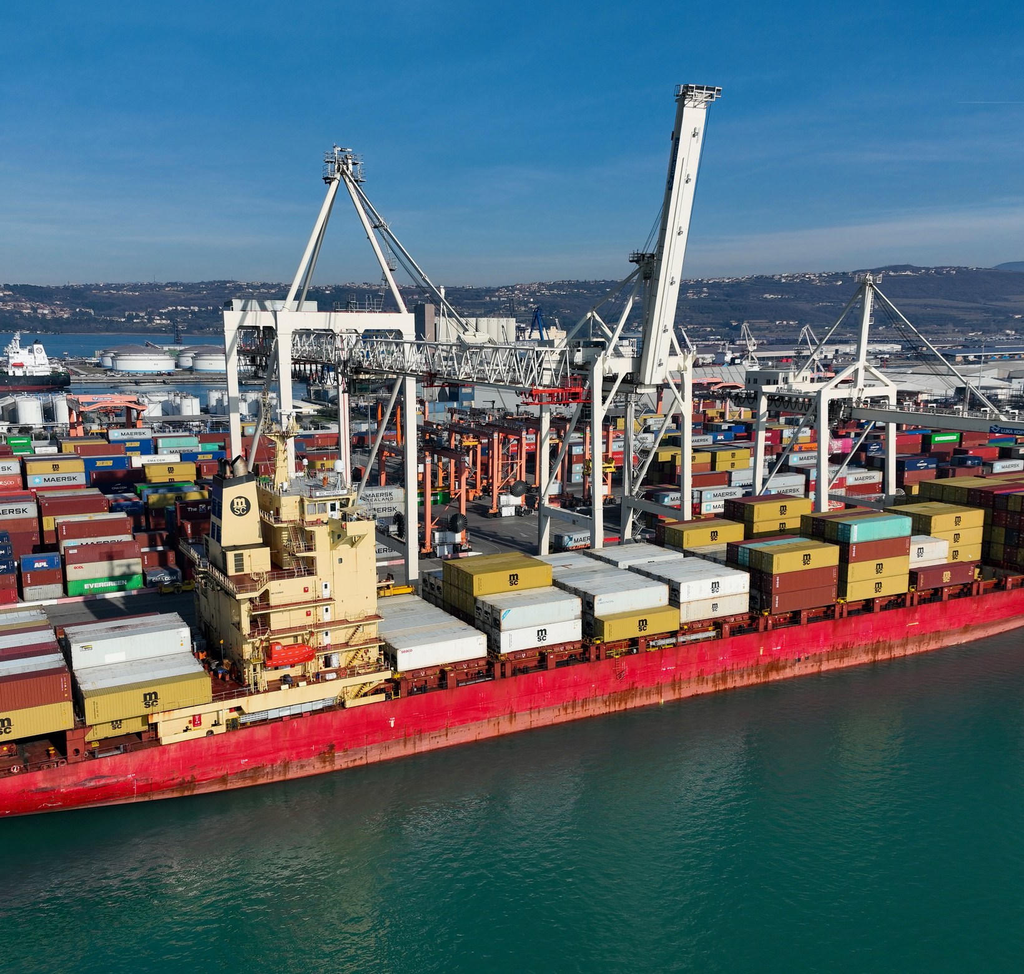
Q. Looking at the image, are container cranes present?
Yes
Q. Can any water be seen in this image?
Yes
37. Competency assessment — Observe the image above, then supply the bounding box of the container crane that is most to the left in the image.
[68,395,140,439]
